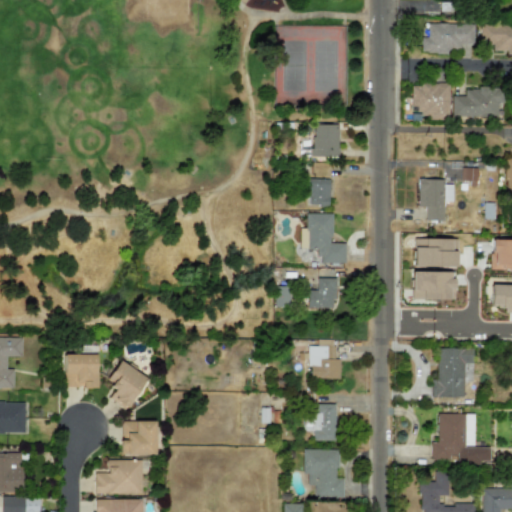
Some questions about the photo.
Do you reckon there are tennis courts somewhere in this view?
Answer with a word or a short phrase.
Yes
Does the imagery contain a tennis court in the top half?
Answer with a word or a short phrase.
Yes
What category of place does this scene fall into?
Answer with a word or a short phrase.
residential area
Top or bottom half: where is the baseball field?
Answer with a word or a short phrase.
top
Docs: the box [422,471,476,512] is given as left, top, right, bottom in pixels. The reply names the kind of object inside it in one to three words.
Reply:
house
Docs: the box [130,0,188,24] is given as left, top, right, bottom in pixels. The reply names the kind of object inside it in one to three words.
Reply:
baseball field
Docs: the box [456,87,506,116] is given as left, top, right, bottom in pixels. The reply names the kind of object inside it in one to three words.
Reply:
house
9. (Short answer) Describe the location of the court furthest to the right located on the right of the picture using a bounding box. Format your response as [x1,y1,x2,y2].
[310,26,347,107]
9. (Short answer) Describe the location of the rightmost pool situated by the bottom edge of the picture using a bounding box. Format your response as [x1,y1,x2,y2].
[292,471,305,495]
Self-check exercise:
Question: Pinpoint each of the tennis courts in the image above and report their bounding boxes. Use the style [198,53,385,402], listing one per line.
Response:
[276,26,310,107]
[310,26,347,107]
